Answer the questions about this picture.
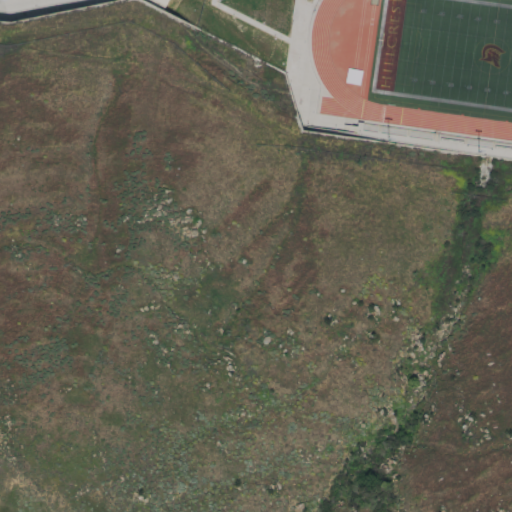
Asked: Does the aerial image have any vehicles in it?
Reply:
No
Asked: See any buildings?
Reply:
No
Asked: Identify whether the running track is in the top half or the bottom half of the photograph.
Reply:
top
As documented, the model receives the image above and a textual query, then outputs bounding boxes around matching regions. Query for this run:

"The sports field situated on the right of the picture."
[368,0,512,122]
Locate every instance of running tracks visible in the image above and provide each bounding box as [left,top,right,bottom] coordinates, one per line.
[312,0,512,142]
